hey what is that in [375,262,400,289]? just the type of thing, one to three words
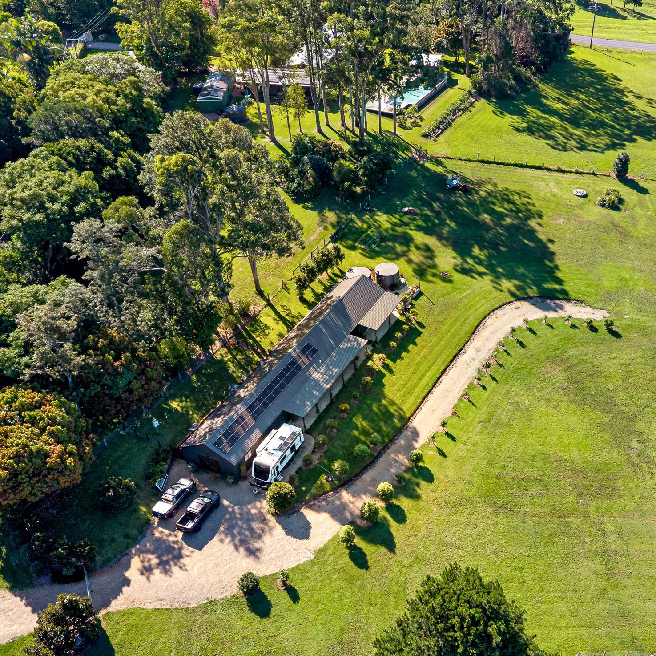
water tank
